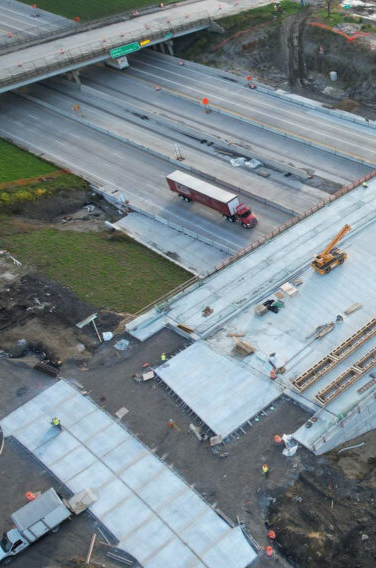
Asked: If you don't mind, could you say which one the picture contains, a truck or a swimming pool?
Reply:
truck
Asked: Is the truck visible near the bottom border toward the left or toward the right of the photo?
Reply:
left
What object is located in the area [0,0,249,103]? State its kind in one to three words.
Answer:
overpass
